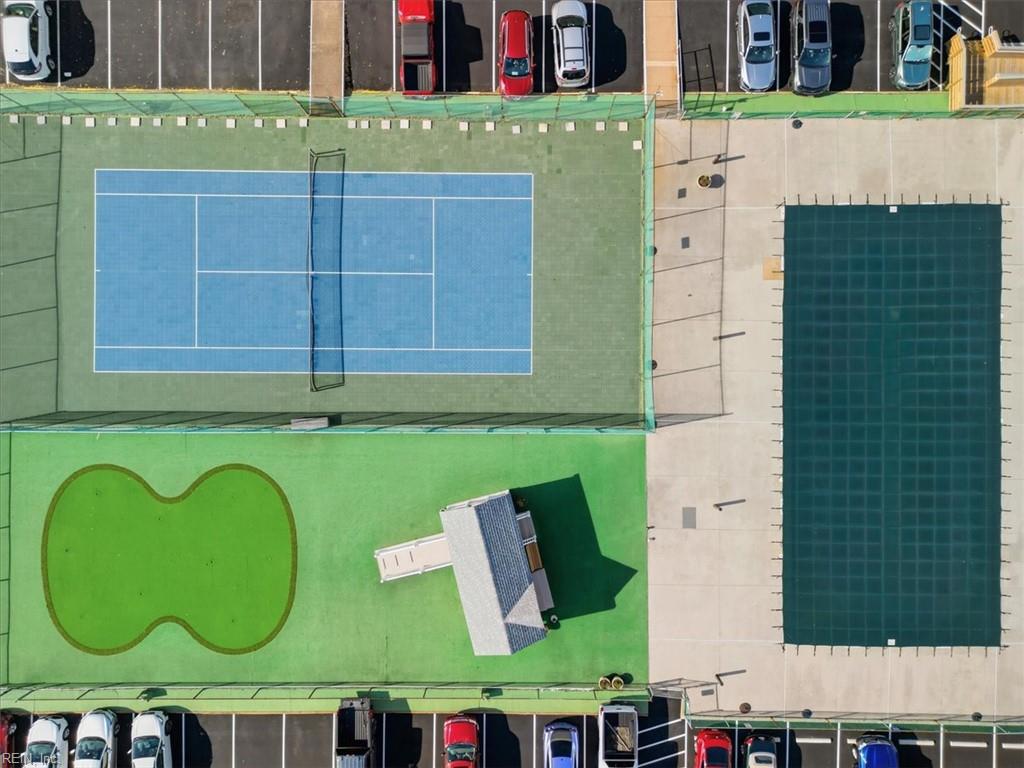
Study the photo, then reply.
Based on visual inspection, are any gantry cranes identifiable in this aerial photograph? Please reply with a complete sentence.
No, no gantry crane is visible in the scene.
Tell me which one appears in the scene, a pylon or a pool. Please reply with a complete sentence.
The image shows a pool.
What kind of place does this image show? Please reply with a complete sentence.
This image shows a sports ground.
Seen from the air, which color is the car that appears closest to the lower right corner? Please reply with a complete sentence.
In this view, the car that appears closest to the lower right corner is blue.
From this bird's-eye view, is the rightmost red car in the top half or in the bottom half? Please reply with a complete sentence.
The rightmost red car is in the bottom half of the image.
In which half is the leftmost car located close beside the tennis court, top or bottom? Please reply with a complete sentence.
It is in the top half that the leftmost car located close beside the tennis court appears.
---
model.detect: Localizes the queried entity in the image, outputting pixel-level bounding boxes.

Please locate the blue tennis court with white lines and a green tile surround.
[0,113,647,430]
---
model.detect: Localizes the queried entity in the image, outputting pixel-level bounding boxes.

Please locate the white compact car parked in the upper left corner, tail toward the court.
[3,0,54,84]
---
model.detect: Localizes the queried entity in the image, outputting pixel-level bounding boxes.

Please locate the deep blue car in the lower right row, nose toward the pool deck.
[852,733,894,768]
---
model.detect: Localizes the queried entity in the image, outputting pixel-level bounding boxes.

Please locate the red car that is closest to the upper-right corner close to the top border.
[496,8,536,99]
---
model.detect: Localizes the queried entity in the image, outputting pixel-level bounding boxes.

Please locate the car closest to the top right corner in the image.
[886,0,934,93]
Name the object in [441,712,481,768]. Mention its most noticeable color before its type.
red car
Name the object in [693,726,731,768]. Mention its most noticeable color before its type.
red car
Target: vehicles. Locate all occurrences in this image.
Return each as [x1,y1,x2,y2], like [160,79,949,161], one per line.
[736,0,780,94]
[0,710,17,768]
[441,712,481,768]
[737,732,776,768]
[71,707,119,768]
[597,700,637,768]
[852,733,894,768]
[786,0,833,98]
[337,699,376,768]
[396,0,438,101]
[886,0,934,93]
[543,721,578,768]
[550,0,593,89]
[496,8,536,99]
[3,0,54,84]
[126,707,173,768]
[693,726,731,768]
[22,712,71,768]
